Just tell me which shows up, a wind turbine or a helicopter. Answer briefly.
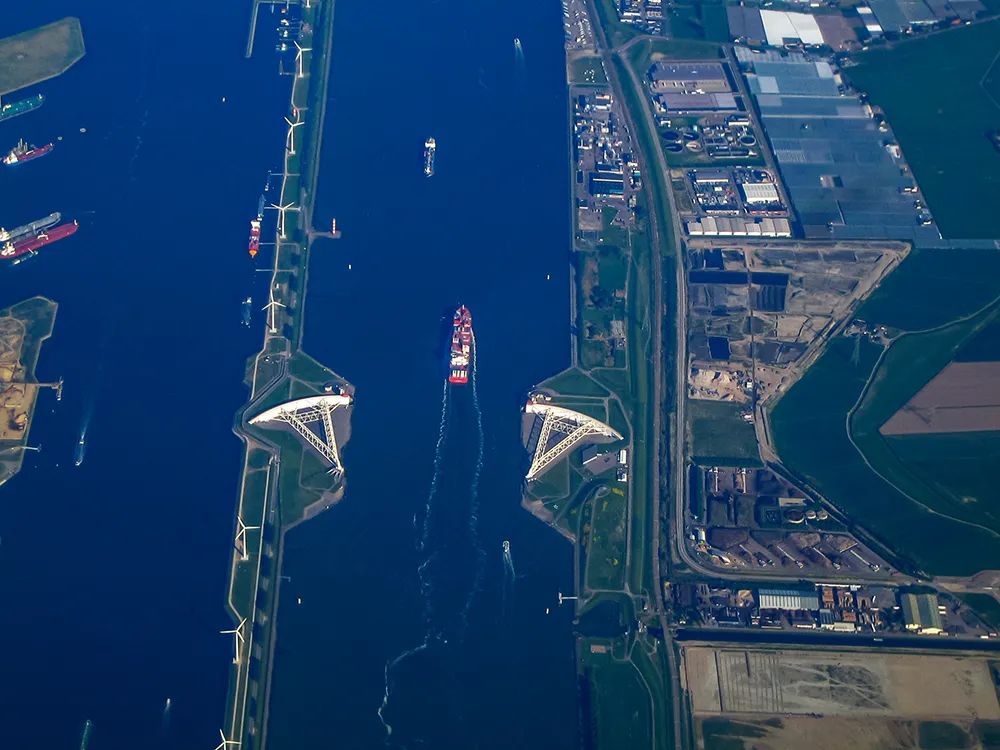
wind turbine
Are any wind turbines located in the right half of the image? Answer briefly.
No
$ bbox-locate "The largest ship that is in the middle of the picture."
[449,307,471,387]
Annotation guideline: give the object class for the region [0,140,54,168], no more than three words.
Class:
ship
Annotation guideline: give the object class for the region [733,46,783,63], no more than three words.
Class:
greenhouse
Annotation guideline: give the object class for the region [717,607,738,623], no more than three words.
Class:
building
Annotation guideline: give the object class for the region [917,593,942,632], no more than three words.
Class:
building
